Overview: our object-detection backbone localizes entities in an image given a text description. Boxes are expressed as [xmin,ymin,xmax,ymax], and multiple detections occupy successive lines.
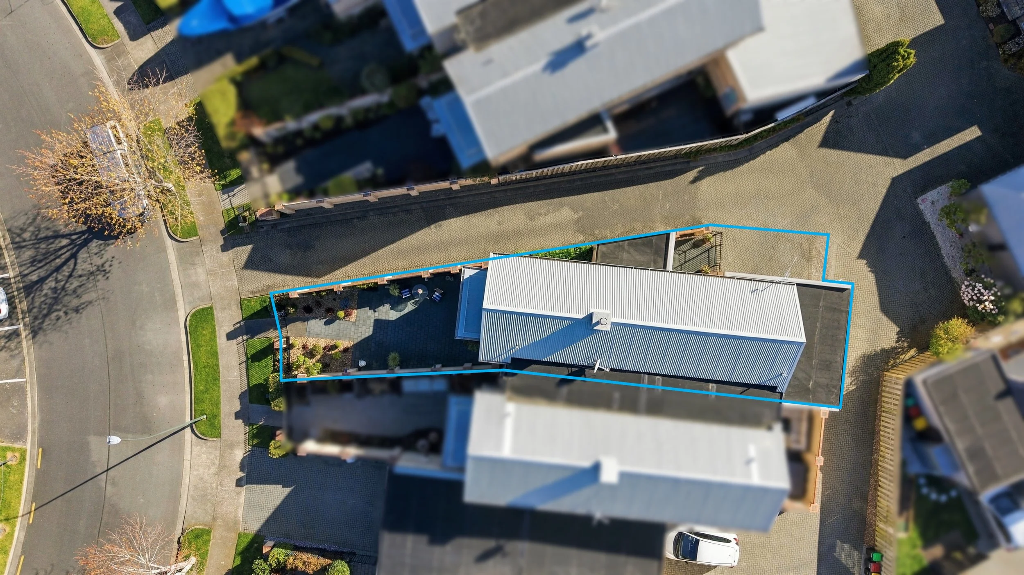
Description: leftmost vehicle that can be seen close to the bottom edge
[666,525,740,571]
